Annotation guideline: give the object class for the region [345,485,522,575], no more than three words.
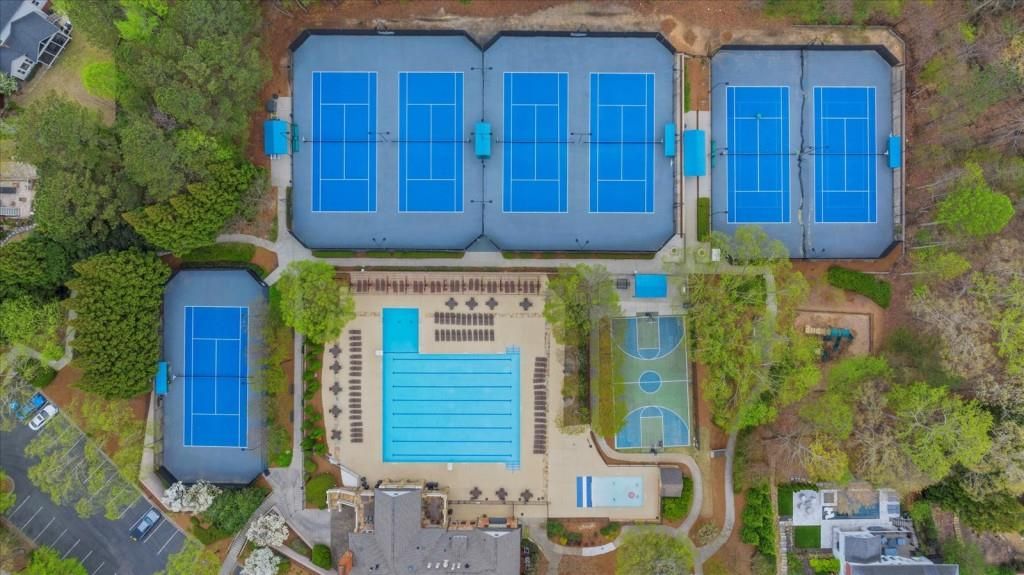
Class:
building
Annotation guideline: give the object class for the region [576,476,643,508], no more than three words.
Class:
swimming pool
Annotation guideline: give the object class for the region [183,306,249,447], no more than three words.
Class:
tennis court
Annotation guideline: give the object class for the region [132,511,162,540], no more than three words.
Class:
car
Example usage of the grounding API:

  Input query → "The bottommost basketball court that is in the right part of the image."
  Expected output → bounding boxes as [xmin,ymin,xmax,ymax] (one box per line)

[609,315,691,452]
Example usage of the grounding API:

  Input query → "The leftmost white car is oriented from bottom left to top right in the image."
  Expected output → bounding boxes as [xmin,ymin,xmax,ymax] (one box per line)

[28,403,59,430]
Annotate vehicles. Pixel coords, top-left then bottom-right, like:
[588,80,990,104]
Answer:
[28,403,59,430]
[13,389,47,419]
[132,511,162,540]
